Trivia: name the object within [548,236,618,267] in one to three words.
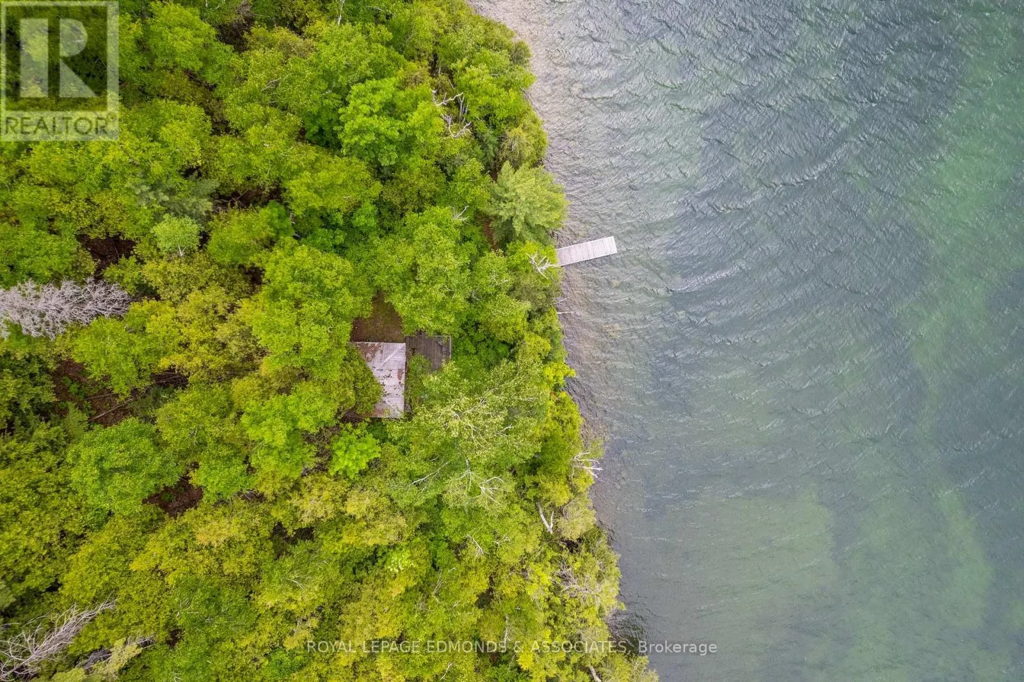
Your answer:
pier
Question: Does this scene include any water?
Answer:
Yes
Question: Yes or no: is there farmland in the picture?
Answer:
No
